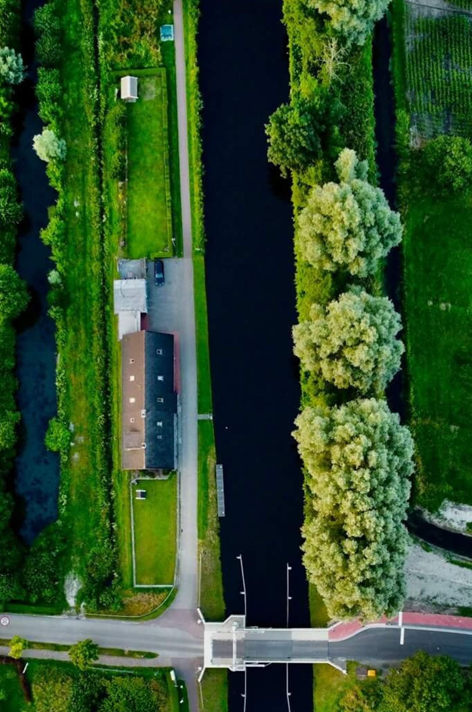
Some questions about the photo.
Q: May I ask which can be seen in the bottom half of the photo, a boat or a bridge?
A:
bridge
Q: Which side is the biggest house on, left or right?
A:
left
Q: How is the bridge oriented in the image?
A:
from left to right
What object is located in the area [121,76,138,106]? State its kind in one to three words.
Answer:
shed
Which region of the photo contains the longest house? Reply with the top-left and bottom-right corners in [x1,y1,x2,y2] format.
[122,329,178,471]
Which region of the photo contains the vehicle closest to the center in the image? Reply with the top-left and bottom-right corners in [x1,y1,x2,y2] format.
[153,260,165,287]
